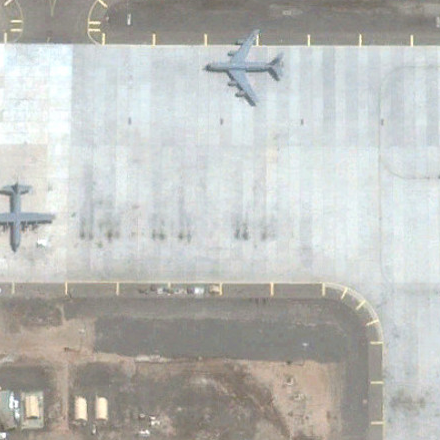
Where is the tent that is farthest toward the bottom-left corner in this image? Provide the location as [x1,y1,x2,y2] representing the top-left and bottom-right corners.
[26,395,39,422]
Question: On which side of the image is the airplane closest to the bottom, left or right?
left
